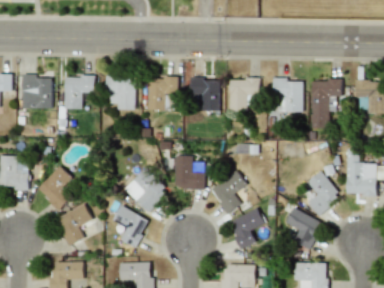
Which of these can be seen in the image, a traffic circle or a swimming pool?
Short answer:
swimming pool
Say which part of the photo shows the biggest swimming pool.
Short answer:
left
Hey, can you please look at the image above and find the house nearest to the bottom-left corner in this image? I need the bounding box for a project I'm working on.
[50,262,85,288]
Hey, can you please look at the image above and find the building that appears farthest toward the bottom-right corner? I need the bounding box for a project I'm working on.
[296,263,330,288]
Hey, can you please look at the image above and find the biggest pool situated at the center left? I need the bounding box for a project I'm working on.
[63,143,92,168]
